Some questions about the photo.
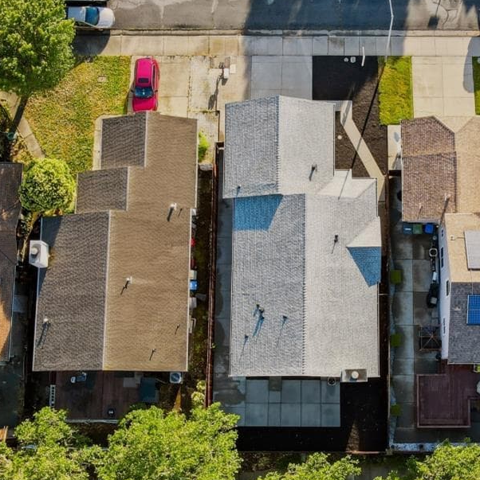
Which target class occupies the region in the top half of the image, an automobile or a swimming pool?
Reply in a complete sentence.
There is an automobile in the top half of the image.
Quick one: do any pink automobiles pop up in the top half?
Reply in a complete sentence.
Yes, in the top half there is a pink automobile.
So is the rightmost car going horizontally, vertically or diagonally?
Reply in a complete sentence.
What the image shows is the rightmost car lying vertically.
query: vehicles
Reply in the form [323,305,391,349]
[132,60,158,109]
[64,5,119,32]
